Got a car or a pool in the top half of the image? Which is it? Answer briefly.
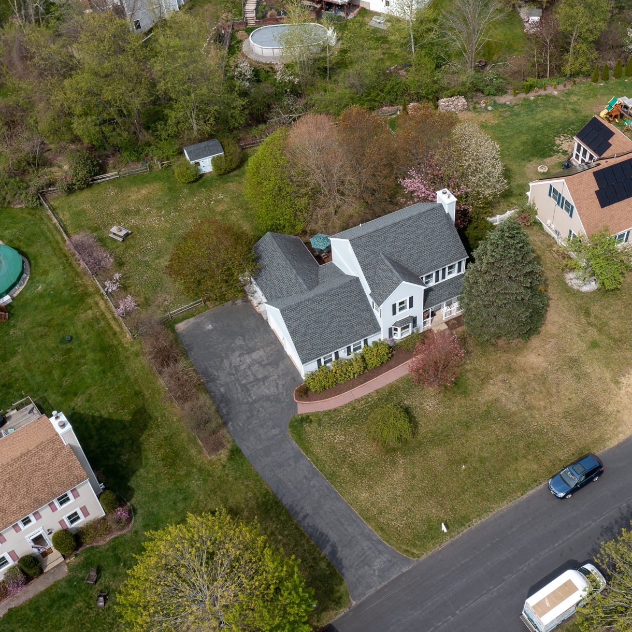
pool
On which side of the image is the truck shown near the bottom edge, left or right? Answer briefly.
right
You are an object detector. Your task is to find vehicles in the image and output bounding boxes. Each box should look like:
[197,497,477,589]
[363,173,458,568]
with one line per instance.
[516,563,609,632]
[547,451,607,498]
